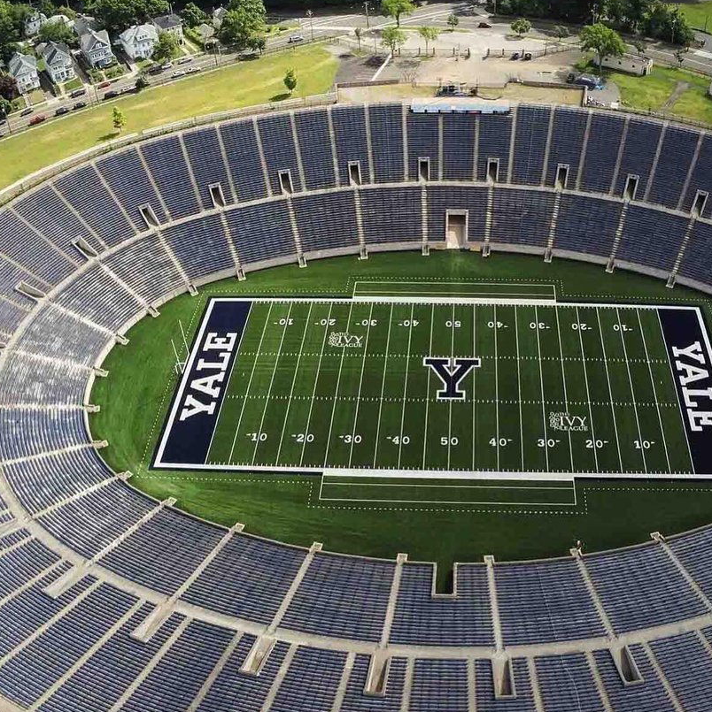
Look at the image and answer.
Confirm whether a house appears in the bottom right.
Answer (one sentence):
No, there's no house to be seen in the bottom right.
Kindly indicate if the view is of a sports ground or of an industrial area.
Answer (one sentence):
The area seen from above is a sports ground.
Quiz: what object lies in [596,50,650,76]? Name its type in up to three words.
building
